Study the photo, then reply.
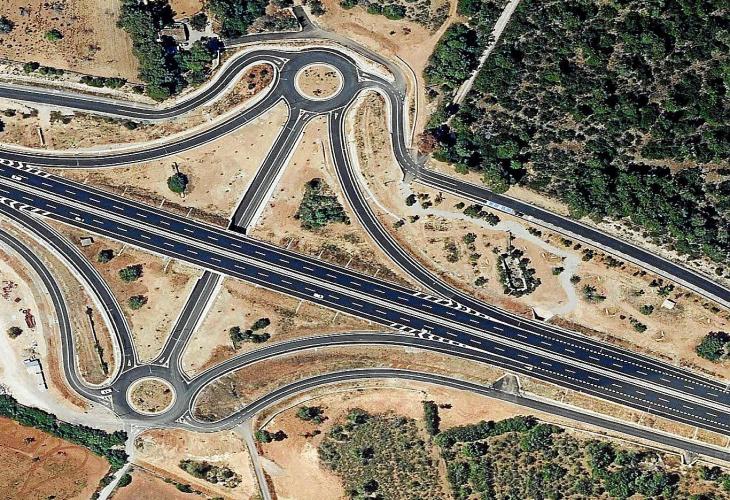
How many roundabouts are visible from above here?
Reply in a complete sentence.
Looking from above, you can make out 2 roundabouts.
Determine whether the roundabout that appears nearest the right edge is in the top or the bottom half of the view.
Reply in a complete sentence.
The top half of the photo is where the roundabout that appears nearest the right edge is.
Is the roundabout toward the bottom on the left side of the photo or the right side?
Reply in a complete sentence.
The roundabout toward the bottom is on the left side of the image.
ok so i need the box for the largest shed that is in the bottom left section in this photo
[25,360,46,389]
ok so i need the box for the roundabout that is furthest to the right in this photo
[258,49,390,139]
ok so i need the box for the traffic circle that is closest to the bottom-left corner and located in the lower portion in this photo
[85,340,223,435]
